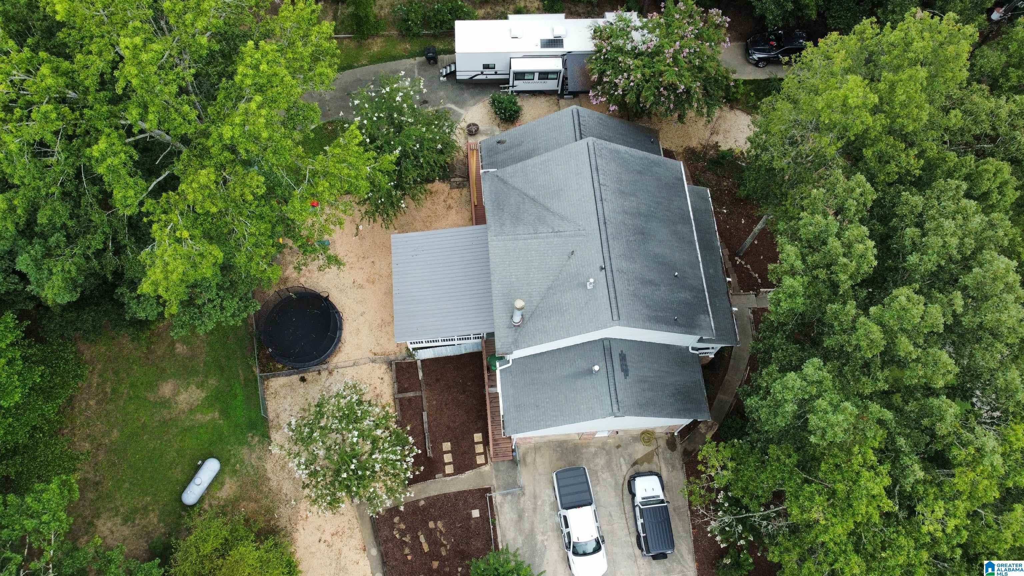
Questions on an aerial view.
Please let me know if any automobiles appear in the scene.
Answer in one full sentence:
Yes, the image includes an automobile.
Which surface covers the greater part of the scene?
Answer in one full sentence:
Most of the picture is covered by trees.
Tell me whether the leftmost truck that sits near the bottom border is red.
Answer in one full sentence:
No, the leftmost truck that sits near the bottom border is white.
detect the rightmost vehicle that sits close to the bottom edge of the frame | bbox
[628,470,674,556]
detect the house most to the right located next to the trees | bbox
[476,106,743,454]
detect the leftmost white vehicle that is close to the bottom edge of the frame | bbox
[549,465,610,576]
